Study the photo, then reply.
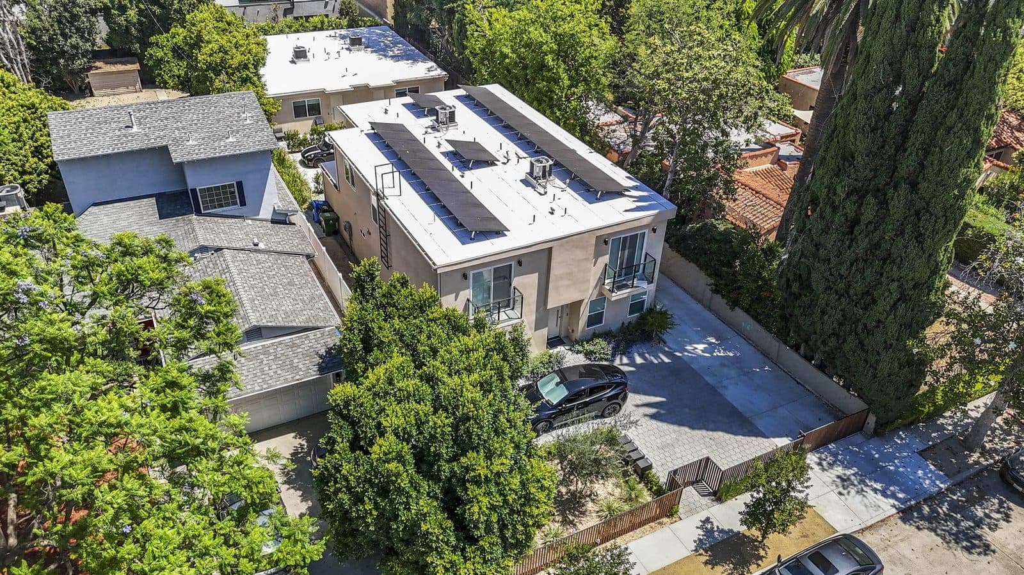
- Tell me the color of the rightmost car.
black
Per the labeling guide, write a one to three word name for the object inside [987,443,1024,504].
car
